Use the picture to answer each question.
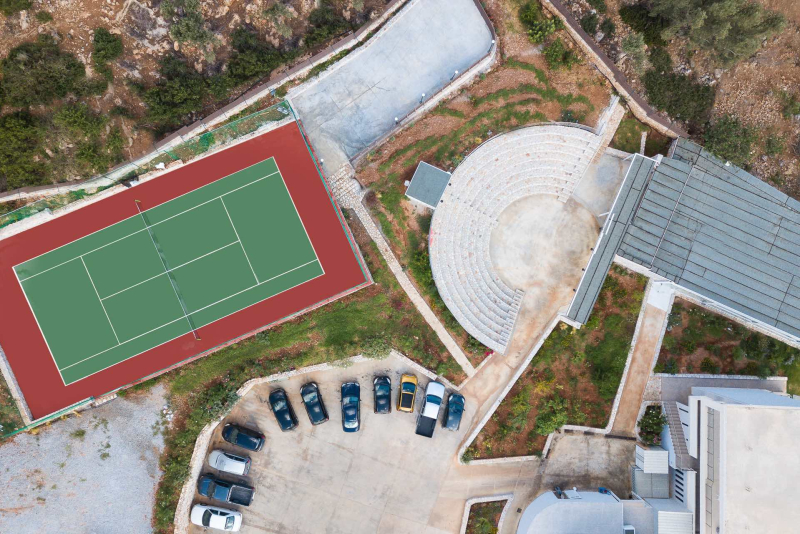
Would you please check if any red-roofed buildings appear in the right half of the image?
No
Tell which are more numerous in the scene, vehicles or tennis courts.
vehicles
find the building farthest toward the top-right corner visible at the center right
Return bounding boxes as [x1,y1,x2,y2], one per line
[613,137,800,353]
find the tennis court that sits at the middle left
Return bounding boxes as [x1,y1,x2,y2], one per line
[0,114,373,427]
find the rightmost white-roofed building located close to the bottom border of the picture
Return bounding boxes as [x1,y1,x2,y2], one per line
[687,389,800,534]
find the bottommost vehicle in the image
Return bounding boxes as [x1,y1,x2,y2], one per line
[190,501,245,534]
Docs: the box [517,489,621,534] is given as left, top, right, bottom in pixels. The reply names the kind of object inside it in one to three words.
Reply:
building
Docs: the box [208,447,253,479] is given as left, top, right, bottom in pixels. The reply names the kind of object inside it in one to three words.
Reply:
car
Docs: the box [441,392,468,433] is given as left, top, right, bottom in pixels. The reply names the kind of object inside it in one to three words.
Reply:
car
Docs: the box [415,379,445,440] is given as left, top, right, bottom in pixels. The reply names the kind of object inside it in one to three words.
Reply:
truck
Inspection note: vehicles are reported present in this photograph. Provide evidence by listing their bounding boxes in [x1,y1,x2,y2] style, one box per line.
[197,473,256,509]
[397,373,420,414]
[221,420,266,454]
[338,381,362,433]
[298,379,330,427]
[208,447,253,479]
[415,379,445,440]
[266,386,300,435]
[190,501,245,534]
[441,392,468,433]
[370,376,393,414]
